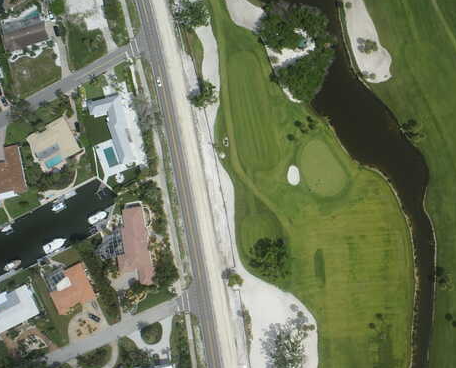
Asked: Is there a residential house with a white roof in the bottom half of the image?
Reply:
Yes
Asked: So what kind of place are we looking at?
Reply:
golf course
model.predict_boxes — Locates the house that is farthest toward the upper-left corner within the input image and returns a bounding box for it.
[1,19,50,51]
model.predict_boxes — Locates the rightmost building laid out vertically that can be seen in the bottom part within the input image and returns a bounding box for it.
[119,205,156,280]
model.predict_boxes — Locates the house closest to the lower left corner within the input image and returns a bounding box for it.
[0,285,41,332]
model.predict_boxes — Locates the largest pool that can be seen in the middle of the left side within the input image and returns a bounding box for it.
[103,145,119,169]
